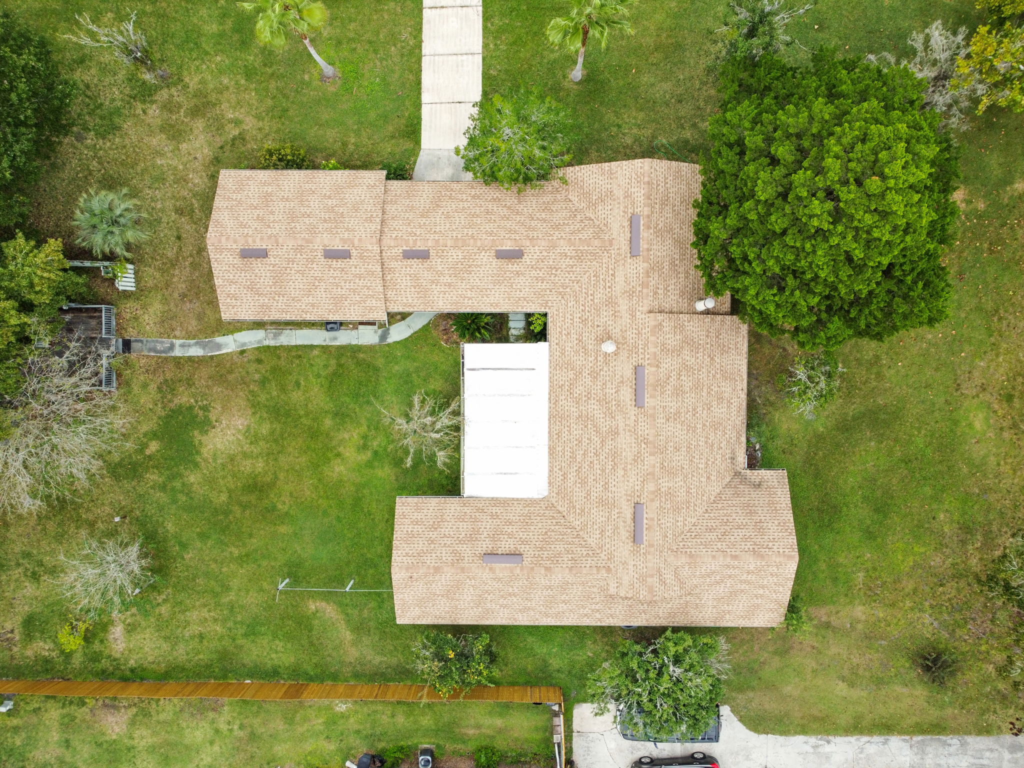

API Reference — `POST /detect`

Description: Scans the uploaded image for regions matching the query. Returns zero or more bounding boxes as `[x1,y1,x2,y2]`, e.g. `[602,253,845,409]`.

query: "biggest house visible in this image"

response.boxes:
[207,158,799,628]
